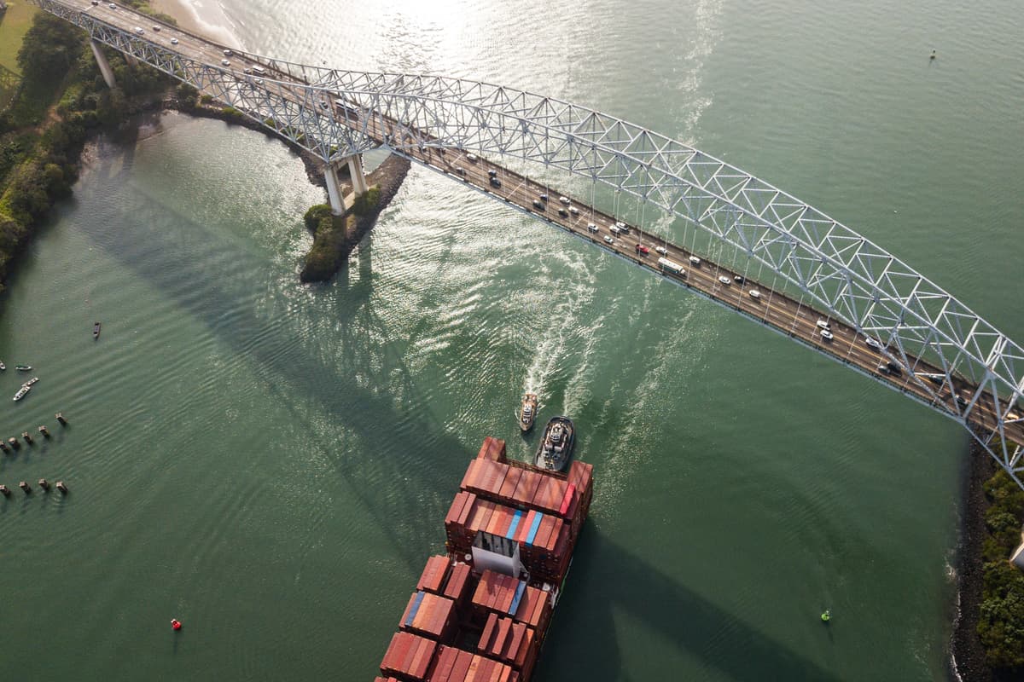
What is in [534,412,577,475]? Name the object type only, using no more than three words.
boat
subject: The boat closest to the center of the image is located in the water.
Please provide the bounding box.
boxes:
[519,390,539,431]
